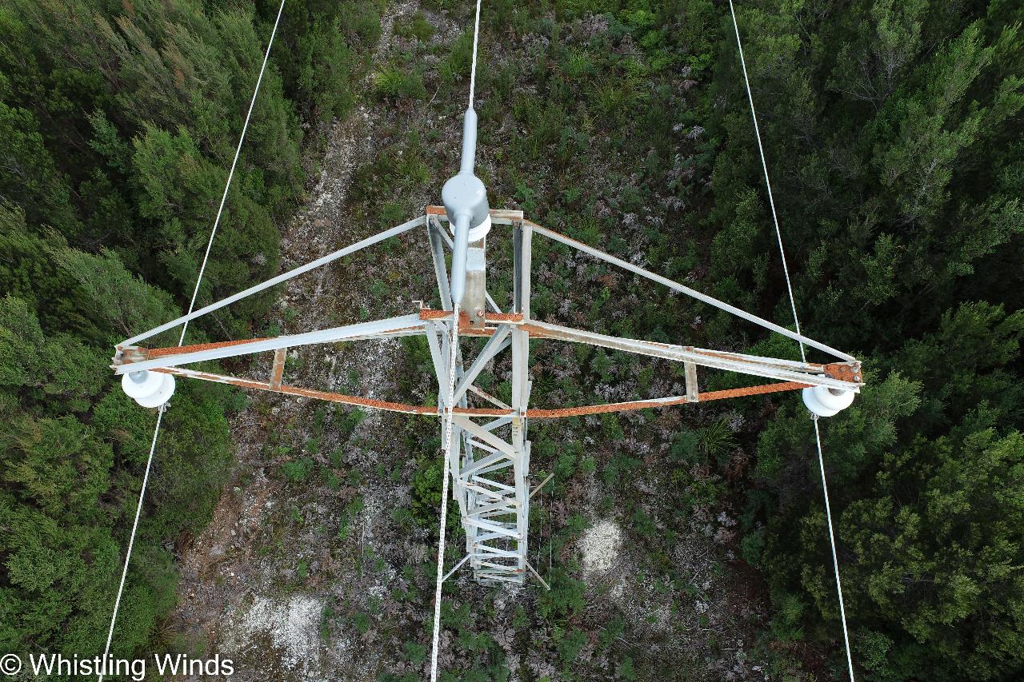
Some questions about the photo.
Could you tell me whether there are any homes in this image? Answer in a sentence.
No, I find no home anywhere in the image.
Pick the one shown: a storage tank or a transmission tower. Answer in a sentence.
The image shows a transmission tower.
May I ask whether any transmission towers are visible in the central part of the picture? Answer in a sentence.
Yes, looking in the central part of the picture, one can make out a transmission tower.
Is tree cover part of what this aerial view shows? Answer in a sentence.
Yes, the picture does contain tree cover.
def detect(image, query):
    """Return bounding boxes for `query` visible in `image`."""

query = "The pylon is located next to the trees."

[111,206,864,586]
